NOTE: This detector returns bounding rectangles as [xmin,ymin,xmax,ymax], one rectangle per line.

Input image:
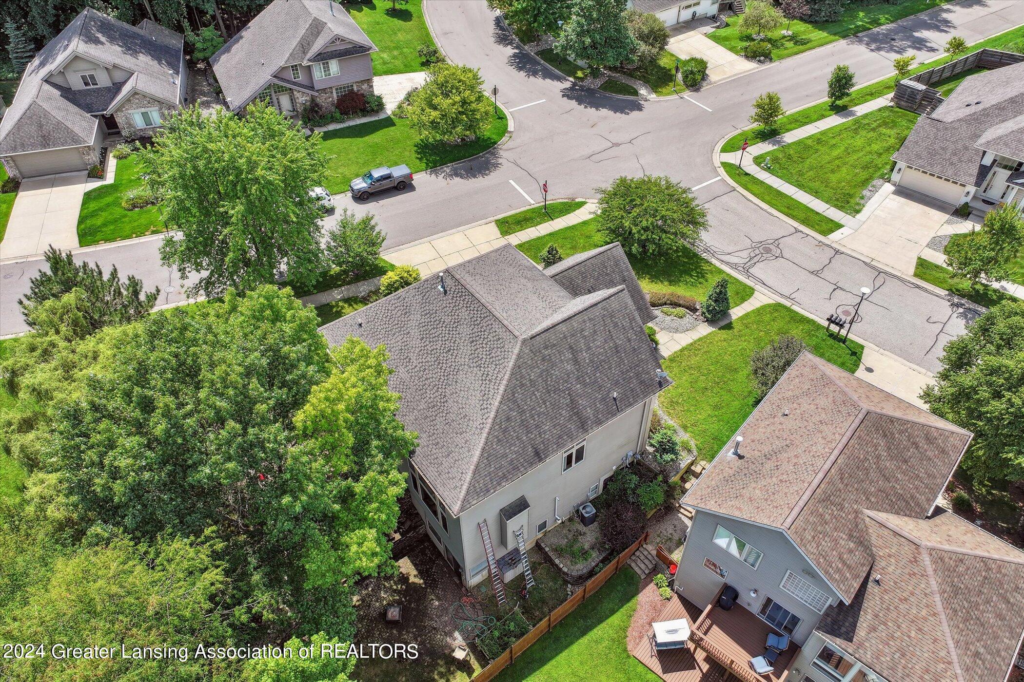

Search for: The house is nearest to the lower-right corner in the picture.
[671,350,1024,682]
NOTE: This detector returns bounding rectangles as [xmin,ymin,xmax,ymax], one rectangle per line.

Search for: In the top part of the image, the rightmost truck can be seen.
[345,166,414,201]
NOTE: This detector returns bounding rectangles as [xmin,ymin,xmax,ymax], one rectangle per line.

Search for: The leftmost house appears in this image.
[0,7,193,180]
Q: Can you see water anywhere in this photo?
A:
No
